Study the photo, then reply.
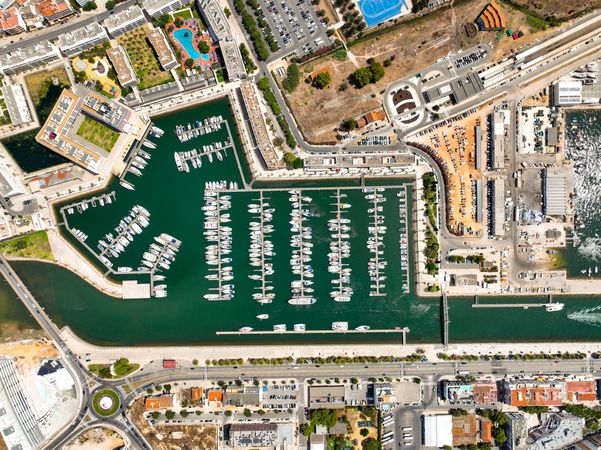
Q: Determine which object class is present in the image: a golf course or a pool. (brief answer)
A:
pool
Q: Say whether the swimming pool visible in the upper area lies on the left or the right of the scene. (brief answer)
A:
left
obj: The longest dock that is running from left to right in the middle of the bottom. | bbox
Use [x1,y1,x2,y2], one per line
[216,328,410,343]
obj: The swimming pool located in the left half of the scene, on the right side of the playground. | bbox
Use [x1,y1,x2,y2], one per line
[166,17,220,70]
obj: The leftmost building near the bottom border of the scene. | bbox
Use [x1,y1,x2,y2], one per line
[0,340,53,450]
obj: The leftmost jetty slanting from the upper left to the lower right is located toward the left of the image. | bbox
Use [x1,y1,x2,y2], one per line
[60,191,154,297]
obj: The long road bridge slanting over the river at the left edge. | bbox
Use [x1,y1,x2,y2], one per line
[0,251,70,349]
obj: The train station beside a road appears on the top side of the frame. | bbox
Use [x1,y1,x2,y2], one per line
[483,18,601,91]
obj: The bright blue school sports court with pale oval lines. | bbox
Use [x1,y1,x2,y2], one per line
[357,0,410,28]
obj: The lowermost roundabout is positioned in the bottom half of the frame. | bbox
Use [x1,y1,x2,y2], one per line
[86,383,126,422]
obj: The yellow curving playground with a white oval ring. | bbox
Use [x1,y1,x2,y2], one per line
[72,57,121,97]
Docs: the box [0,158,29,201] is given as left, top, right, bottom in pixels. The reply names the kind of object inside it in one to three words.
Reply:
building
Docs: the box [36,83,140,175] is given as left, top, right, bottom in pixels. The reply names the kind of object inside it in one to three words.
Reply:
building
